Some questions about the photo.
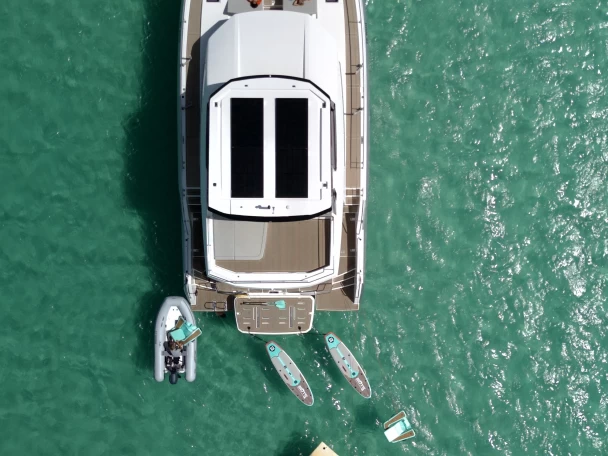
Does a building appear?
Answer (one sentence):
No, there's no building here.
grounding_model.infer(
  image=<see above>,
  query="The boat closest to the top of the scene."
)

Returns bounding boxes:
[176,0,370,334]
